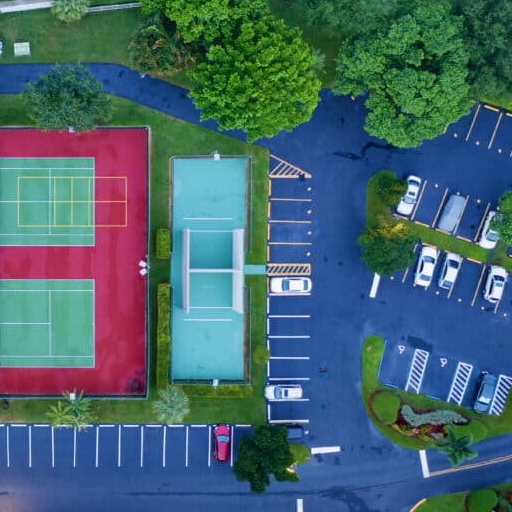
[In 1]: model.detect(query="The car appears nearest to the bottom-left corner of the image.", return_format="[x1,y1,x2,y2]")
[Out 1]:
[213,424,231,462]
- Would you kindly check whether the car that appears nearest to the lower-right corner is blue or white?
blue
